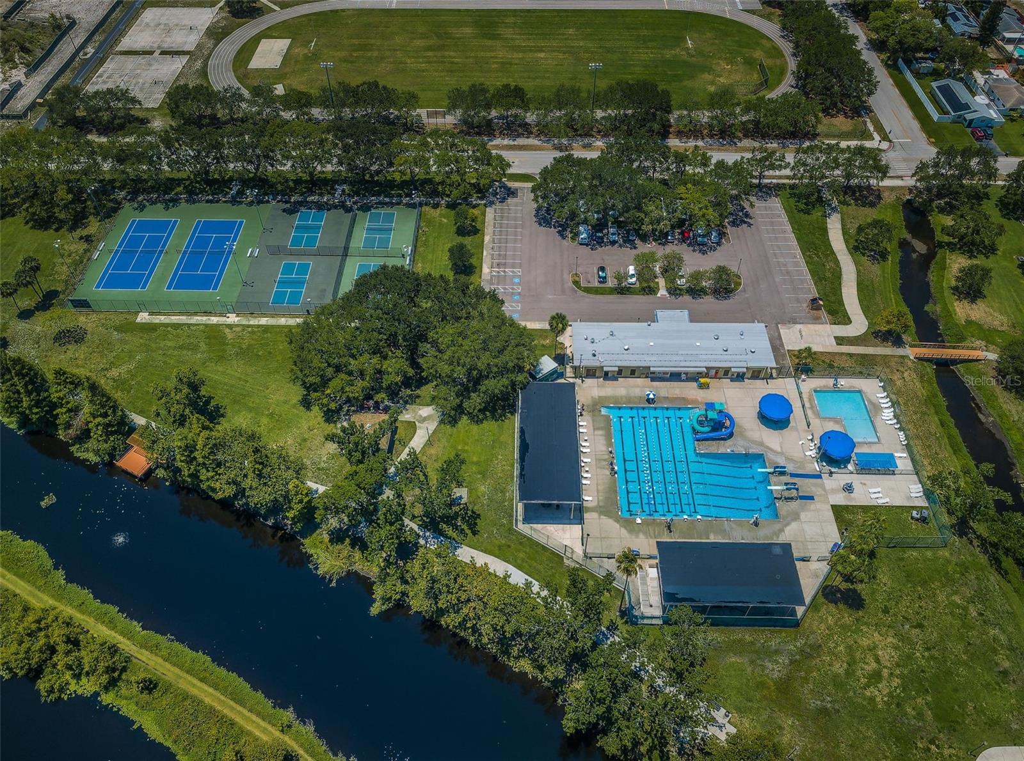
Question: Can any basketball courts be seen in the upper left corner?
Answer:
Yes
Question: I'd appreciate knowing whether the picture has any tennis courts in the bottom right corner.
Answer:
No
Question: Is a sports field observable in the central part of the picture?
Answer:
No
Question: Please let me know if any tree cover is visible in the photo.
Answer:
Yes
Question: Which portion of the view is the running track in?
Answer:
top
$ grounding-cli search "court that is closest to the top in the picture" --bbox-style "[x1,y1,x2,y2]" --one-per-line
[116,7,219,50]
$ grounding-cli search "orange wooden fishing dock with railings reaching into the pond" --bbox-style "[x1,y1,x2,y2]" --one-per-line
[115,431,165,477]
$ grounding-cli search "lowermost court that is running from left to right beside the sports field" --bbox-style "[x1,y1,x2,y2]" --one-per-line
[80,55,189,107]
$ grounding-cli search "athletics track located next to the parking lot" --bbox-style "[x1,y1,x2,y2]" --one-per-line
[206,0,813,125]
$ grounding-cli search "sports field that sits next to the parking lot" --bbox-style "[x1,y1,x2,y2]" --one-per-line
[233,8,788,110]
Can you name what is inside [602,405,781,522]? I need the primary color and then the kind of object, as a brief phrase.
blue swimming pool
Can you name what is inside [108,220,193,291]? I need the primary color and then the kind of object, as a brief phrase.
blue tennis court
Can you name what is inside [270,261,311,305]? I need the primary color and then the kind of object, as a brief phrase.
blue sports court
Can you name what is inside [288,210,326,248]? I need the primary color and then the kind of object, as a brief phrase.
blue sports court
